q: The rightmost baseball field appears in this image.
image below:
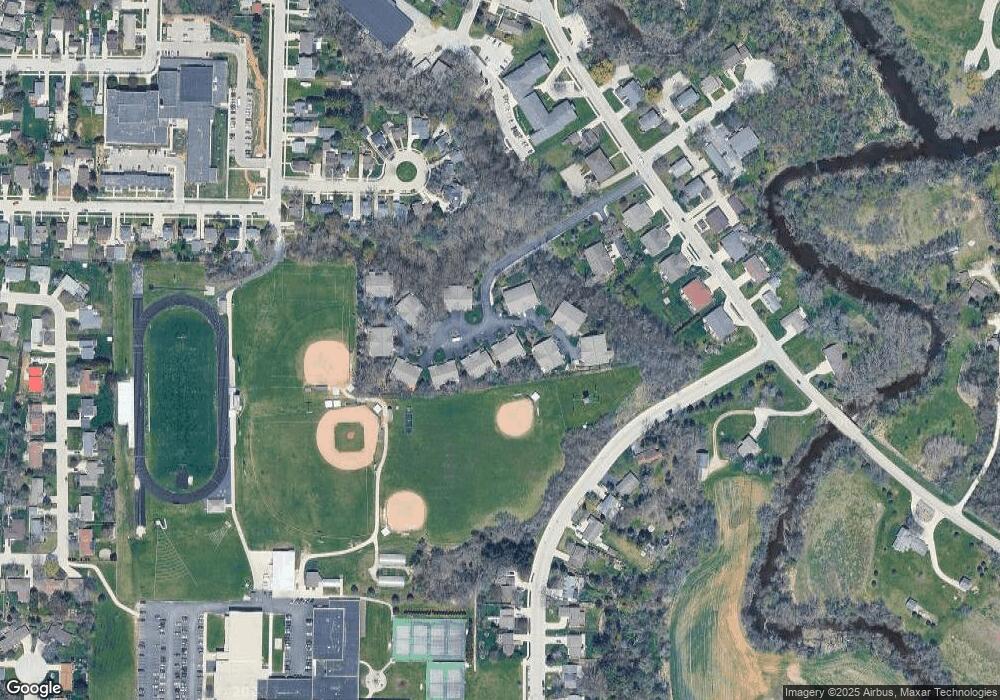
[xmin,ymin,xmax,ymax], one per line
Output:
[496,398,533,437]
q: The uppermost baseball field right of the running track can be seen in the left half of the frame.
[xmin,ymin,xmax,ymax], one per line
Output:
[304,341,350,391]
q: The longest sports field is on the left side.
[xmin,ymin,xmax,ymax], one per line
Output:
[145,305,217,493]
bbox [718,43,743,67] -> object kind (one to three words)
house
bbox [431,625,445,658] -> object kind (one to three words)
tennis court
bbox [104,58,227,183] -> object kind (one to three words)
building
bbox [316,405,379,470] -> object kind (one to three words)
baseball field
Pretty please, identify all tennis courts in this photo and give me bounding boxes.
[431,625,445,658]
[397,626,410,657]
[447,669,460,700]
[430,669,443,700]
[449,624,464,659]
[414,626,427,657]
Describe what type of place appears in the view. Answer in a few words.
residential area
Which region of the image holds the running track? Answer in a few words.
left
